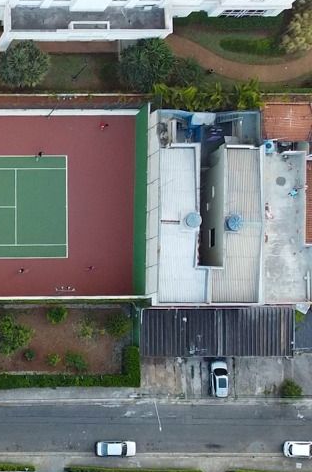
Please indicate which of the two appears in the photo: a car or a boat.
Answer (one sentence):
Of the two, only a car appears.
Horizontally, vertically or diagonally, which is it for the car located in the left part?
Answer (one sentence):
What the image shows is the car located in the left part lying horizontally.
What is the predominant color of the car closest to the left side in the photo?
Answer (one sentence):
The car closest to the left side looks white in the image.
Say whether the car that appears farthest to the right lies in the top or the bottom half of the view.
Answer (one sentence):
The bottom half of the photo is where the car that appears farthest to the right is.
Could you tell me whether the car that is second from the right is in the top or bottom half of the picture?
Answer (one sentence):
It is in the bottom half that the car that is second from the right appears.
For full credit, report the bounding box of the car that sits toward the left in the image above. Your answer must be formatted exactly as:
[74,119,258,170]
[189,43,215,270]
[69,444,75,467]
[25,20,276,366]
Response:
[95,439,135,459]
